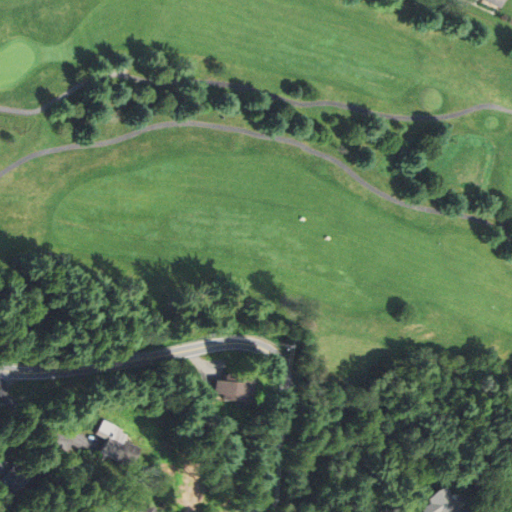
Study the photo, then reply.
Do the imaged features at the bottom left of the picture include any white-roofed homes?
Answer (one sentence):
Yes, looking at the bottom left of the picture, one can make out a white-roofed home.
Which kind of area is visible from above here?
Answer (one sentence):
This image shows a golf course.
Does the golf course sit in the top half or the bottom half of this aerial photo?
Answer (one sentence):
The top half of the photo is where the golf course is.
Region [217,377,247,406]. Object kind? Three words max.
house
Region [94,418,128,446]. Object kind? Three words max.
house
